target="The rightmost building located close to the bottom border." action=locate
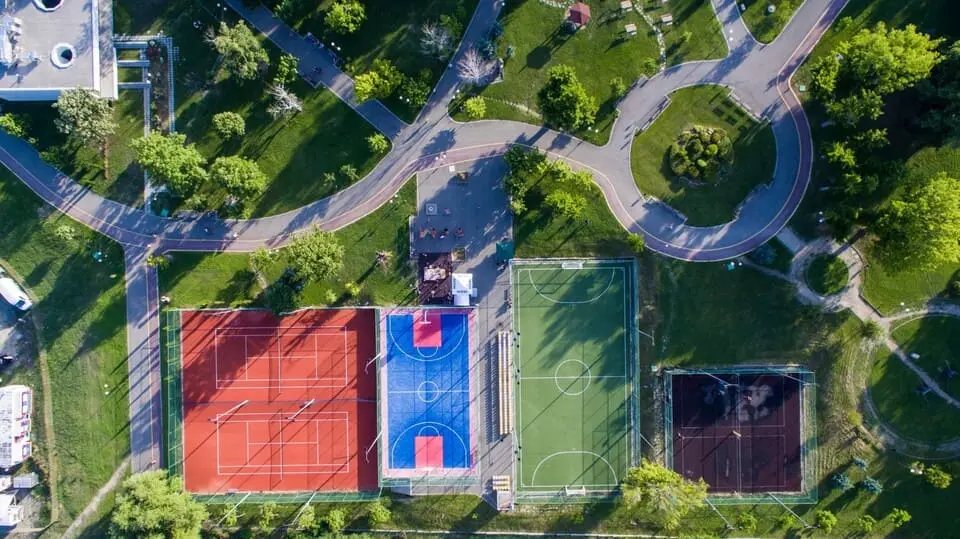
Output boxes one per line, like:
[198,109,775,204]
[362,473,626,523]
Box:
[497,492,511,515]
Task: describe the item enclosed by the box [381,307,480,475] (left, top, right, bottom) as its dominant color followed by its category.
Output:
blue basketball court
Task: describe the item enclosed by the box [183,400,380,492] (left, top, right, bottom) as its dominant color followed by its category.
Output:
red tennis court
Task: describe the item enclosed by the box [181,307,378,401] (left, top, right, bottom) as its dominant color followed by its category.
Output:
red tennis court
